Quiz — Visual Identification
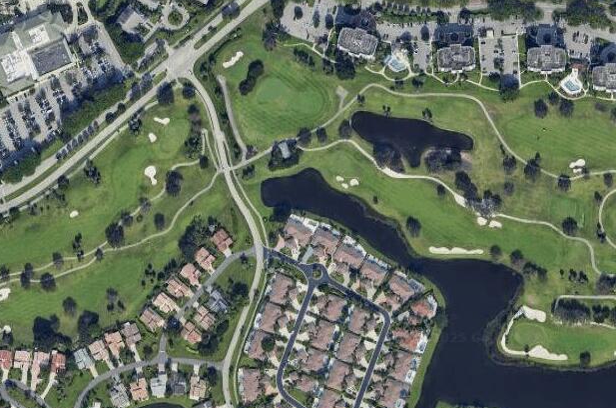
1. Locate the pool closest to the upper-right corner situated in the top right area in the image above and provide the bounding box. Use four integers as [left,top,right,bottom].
[565,78,581,93]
